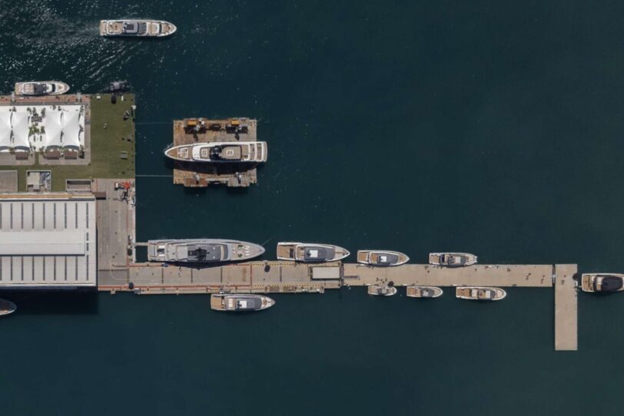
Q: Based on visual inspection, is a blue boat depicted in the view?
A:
No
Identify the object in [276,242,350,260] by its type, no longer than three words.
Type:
boat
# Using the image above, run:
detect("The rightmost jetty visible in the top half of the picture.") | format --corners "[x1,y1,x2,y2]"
[173,117,256,187]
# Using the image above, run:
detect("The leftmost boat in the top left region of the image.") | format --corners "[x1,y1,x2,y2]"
[15,81,69,95]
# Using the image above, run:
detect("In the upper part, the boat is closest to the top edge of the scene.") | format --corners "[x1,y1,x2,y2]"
[99,19,176,36]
